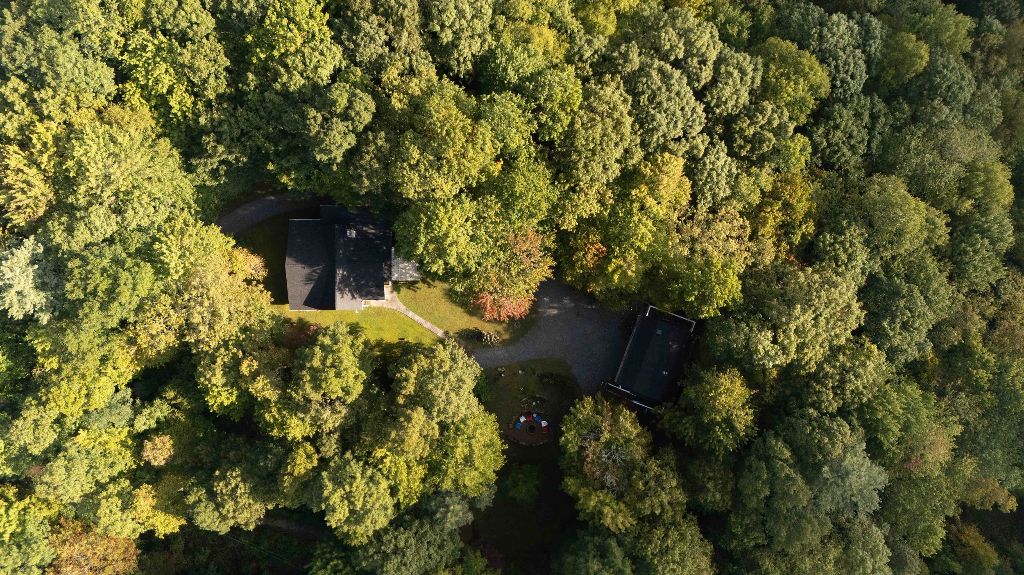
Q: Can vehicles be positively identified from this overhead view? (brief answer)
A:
No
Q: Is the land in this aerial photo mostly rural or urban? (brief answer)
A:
rural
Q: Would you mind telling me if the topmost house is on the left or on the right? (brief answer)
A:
left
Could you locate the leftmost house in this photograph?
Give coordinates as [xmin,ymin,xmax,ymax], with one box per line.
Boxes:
[285,205,392,314]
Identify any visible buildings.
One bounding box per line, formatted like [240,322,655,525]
[615,314,699,402]
[285,205,392,314]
